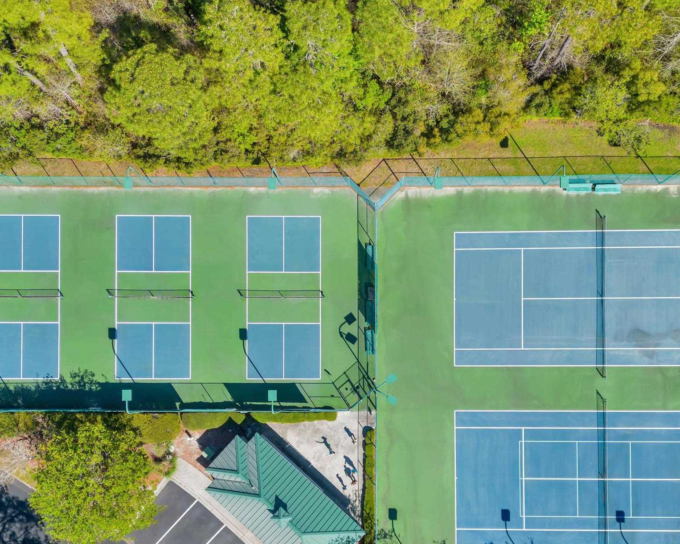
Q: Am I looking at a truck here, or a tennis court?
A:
tennis court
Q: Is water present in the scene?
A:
No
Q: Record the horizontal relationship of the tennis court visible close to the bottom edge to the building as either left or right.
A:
to the right of it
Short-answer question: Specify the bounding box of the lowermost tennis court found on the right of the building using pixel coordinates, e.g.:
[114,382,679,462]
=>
[455,410,680,544]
